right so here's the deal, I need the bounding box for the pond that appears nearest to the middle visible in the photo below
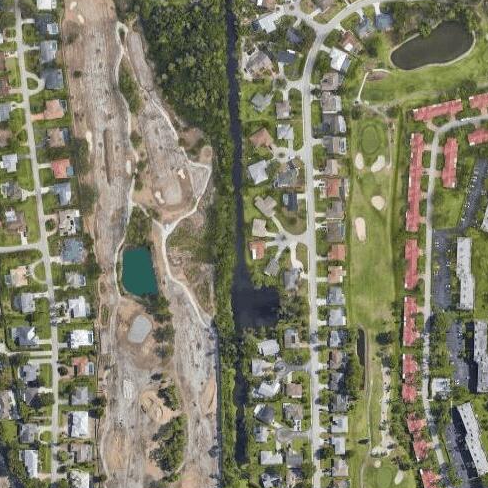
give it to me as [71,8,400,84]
[121,244,158,297]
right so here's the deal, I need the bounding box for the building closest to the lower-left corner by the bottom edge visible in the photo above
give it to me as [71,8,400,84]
[21,449,38,476]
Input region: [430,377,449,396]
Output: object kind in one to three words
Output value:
swimming pool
